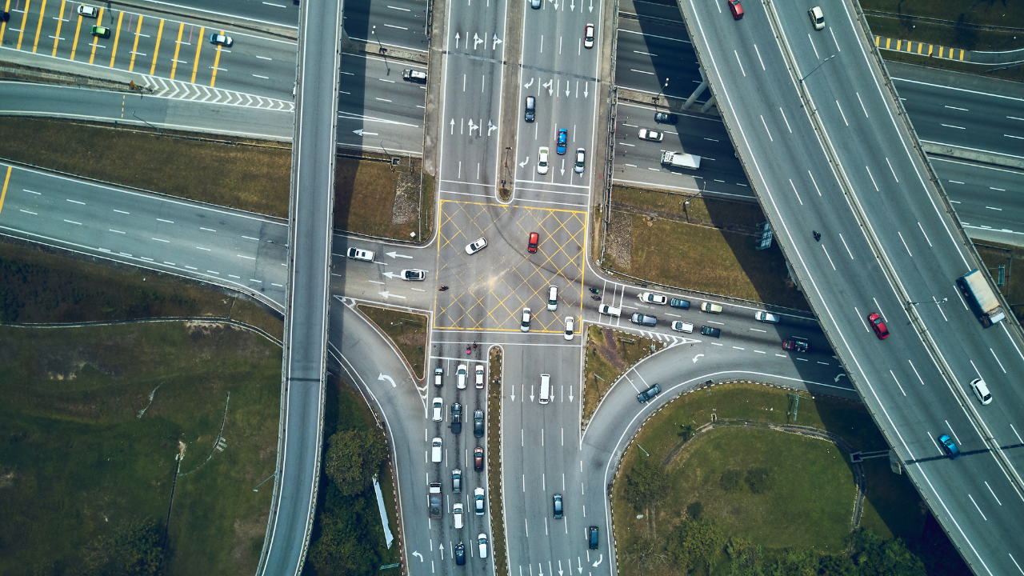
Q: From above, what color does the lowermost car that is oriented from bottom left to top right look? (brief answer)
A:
blue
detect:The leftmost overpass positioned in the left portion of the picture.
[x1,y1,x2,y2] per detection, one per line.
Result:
[254,0,346,576]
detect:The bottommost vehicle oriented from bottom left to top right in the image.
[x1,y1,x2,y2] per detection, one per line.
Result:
[637,383,661,403]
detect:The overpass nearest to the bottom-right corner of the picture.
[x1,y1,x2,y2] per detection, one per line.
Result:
[675,0,1024,576]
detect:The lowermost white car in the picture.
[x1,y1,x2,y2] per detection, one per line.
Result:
[477,532,489,559]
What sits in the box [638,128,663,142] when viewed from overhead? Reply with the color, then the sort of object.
white car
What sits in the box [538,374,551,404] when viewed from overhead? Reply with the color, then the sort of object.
white vehicle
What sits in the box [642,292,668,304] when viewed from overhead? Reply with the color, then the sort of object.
white vehicle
